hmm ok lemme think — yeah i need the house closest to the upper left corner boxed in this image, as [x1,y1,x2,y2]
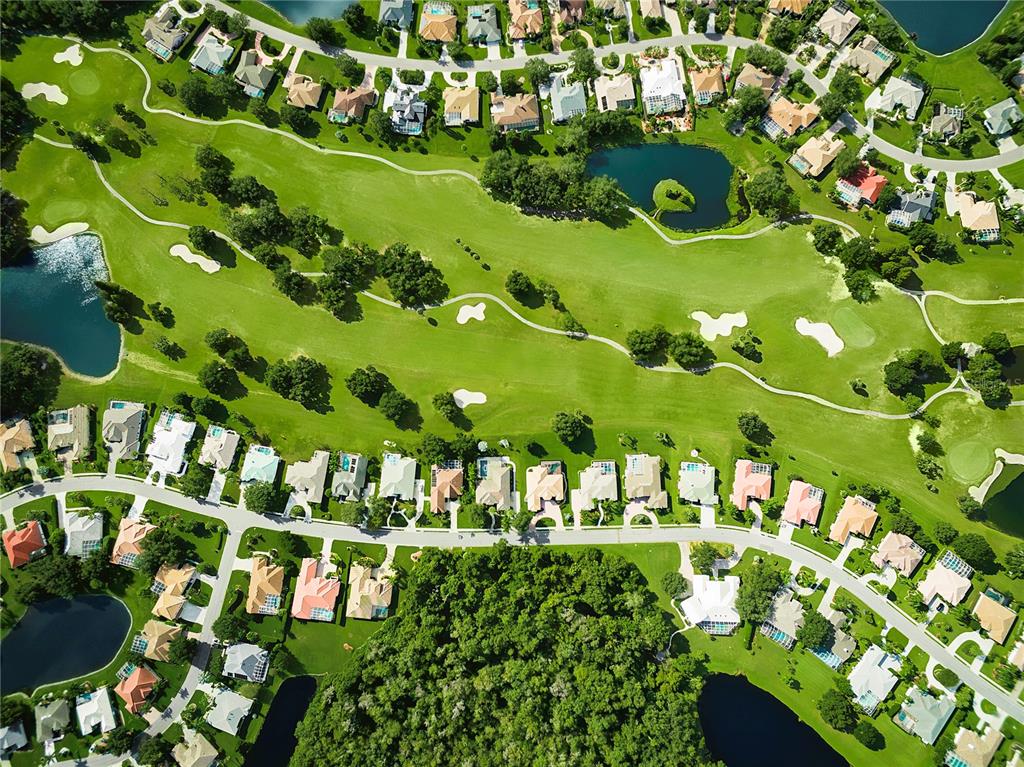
[141,7,190,63]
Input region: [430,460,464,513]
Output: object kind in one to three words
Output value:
house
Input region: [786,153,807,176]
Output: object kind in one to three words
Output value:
swimming pool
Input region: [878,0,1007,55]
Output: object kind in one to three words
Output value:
pond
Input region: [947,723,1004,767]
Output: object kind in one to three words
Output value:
house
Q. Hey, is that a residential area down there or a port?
residential area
